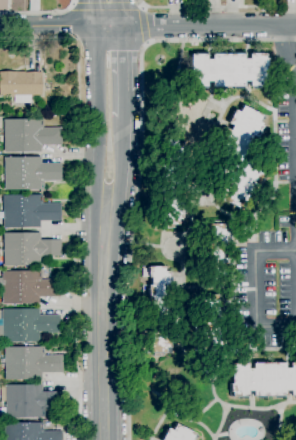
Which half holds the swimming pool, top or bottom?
bottom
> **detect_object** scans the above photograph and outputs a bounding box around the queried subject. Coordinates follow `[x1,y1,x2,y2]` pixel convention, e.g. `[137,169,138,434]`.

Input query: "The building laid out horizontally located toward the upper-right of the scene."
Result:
[194,52,271,86]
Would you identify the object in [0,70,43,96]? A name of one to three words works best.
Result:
house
